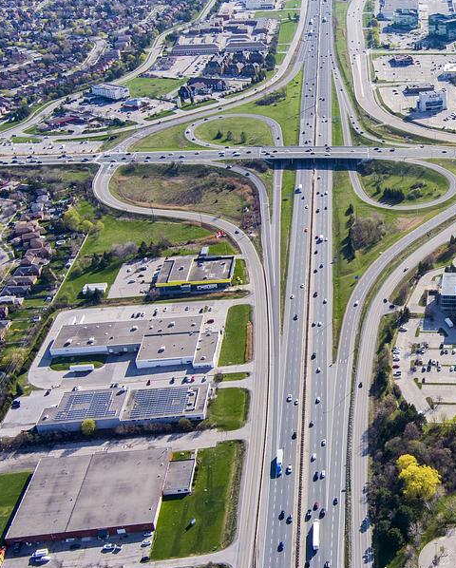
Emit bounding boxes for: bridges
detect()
[260,144,372,170]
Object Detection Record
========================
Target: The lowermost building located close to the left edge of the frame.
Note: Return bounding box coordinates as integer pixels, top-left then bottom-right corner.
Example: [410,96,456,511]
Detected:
[6,449,173,547]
